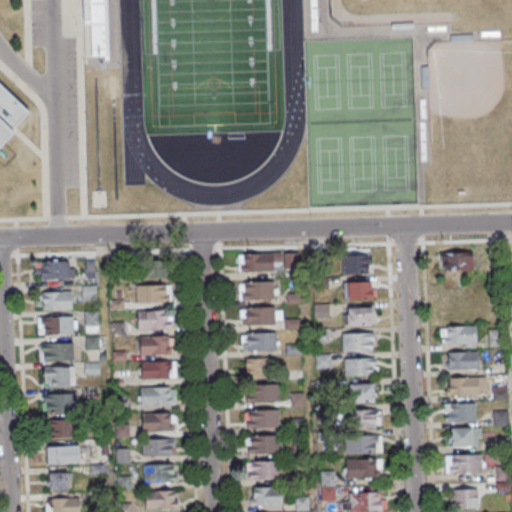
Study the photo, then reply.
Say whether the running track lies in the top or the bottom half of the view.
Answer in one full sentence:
It is in the top half that the running track appears.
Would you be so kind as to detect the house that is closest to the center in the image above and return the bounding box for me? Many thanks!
[236,252,285,272]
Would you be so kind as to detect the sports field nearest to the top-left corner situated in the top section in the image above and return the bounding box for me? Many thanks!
[143,0,284,136]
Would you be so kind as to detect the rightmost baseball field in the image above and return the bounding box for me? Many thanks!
[429,41,512,150]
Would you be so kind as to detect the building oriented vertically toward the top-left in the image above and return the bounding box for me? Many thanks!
[0,81,28,146]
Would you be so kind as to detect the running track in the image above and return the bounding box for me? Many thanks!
[121,0,306,206]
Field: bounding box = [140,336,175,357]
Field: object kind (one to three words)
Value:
house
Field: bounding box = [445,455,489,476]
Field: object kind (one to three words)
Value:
house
